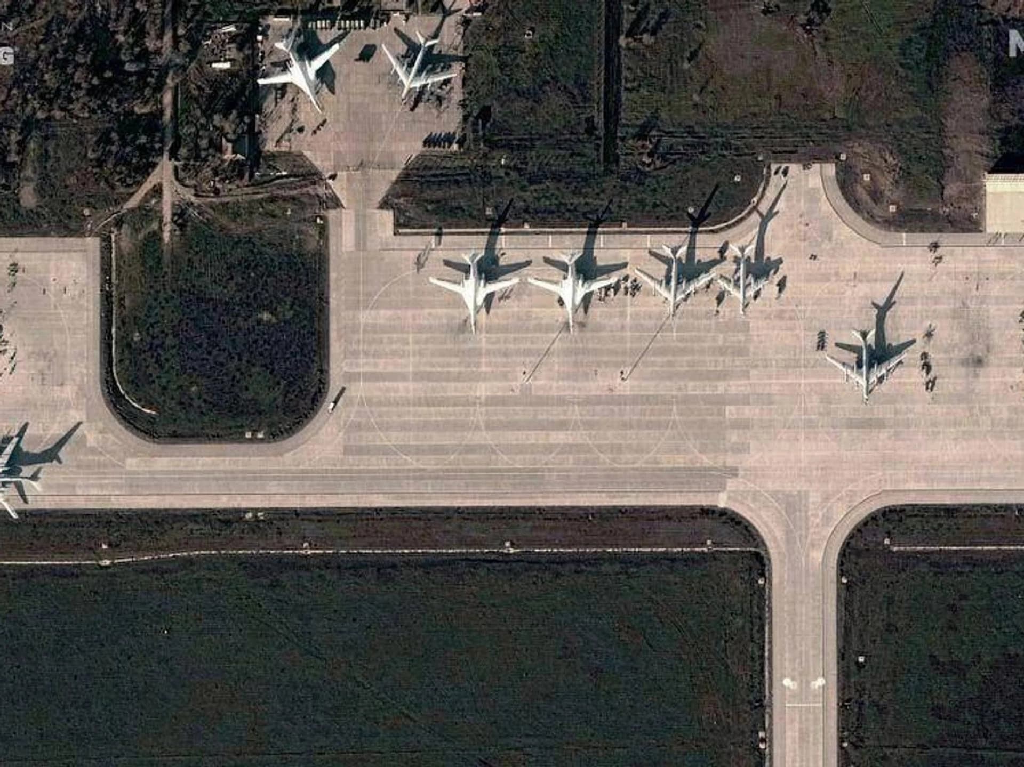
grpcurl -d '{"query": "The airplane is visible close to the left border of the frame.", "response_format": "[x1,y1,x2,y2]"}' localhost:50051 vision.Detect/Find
[0,440,46,519]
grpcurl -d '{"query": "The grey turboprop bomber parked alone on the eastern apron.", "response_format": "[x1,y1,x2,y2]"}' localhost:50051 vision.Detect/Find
[827,327,907,398]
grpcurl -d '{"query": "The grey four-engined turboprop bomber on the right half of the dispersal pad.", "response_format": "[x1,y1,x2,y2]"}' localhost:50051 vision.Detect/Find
[384,27,459,100]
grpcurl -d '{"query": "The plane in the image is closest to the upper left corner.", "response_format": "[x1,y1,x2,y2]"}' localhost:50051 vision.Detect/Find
[256,30,338,110]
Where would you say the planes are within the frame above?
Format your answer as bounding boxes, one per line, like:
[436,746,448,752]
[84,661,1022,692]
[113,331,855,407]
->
[256,30,338,110]
[827,327,907,398]
[0,440,46,519]
[636,243,716,315]
[430,247,519,332]
[384,27,459,100]
[718,240,768,312]
[528,247,617,333]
